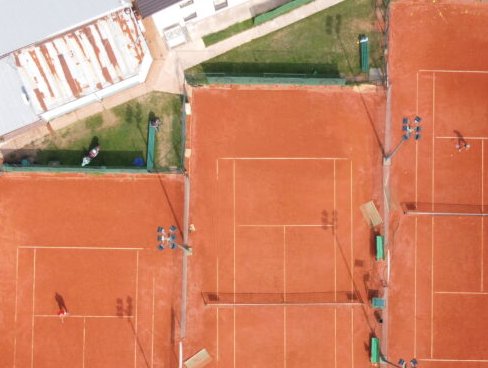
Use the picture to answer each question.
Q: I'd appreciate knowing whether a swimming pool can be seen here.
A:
No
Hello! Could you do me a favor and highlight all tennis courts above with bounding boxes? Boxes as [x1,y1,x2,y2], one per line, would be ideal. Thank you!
[388,0,488,368]
[0,173,186,368]
[185,84,388,368]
